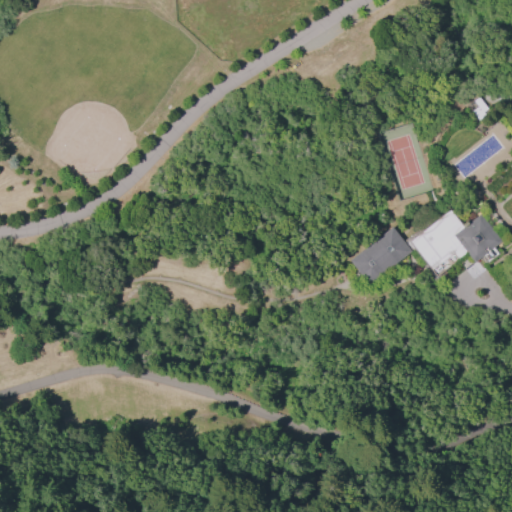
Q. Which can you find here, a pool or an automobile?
pool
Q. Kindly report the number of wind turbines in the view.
0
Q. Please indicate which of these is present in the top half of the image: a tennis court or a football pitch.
tennis court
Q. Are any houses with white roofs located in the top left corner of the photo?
No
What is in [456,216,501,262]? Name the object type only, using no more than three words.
house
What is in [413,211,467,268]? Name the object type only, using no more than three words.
house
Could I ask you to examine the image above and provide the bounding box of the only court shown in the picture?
[386,124,432,198]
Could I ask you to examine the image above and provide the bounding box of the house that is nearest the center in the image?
[353,227,412,282]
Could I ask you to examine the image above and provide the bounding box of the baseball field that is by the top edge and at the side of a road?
[0,5,196,184]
